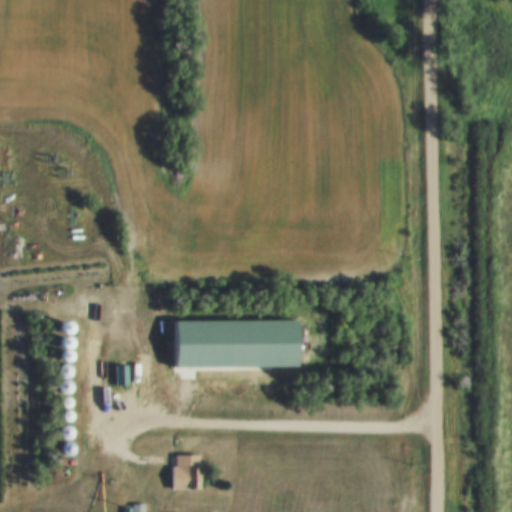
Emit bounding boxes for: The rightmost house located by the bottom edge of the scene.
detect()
[172,454,204,490]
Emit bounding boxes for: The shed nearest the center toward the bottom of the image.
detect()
[174,318,304,368]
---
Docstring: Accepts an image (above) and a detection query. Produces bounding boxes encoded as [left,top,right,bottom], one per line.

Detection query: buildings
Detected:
[126,503,147,512]
[172,454,204,490]
[114,362,131,387]
[174,318,304,368]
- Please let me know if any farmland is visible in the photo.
Yes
